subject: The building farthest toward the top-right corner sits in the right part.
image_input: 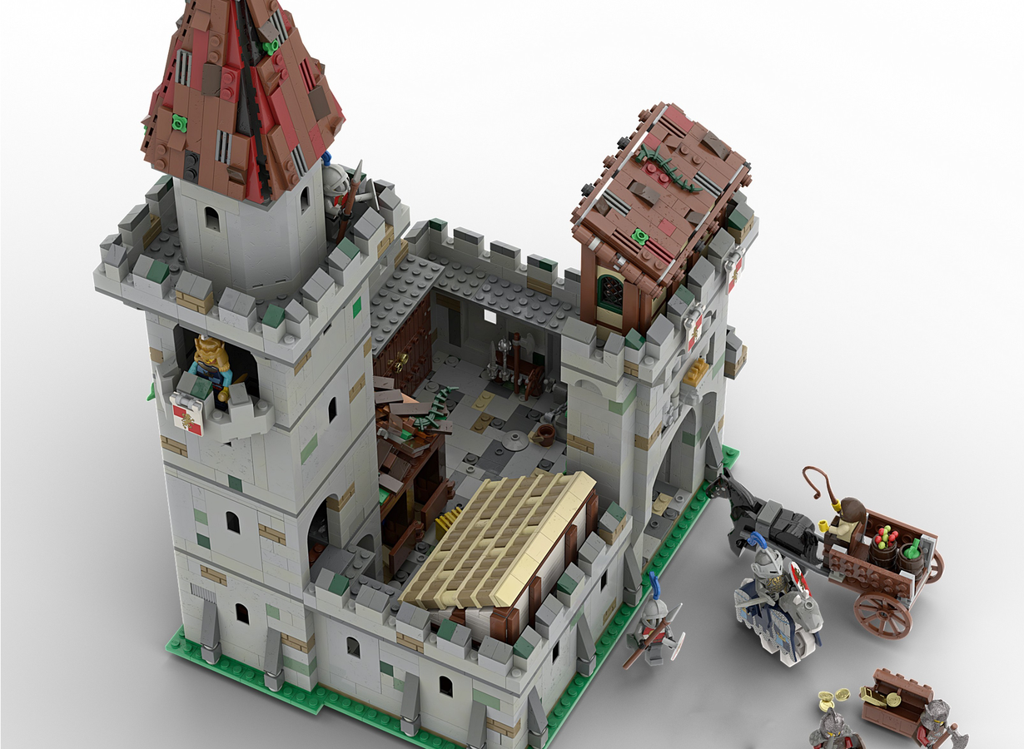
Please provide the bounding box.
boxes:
[566,98,753,352]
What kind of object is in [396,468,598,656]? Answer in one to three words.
shed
